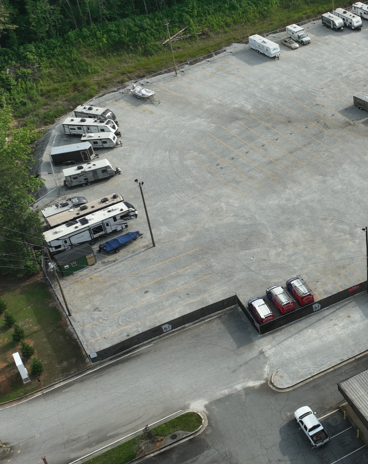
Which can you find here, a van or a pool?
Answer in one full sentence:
Looking from above, you can make out a van.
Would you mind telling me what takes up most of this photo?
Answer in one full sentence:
What you mostly see from above here is paved ground.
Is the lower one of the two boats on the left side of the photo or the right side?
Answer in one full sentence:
It is on the left.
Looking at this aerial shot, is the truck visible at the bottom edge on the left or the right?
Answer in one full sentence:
It is on the right.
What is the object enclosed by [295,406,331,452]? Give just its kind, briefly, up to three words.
truck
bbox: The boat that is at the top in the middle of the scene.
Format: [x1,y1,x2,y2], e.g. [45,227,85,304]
[132,83,158,96]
